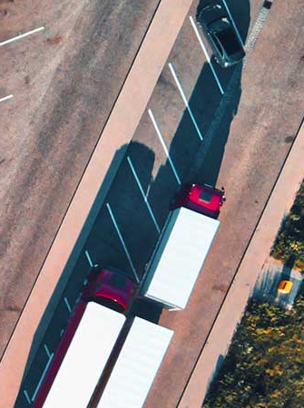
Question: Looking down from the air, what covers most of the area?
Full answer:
The scene is dominated by paved ground.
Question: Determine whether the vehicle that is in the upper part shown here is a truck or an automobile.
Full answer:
I'd say the vehicle that is in the upper part is an automobile.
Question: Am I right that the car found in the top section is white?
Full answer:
No, the car found in the top section is black.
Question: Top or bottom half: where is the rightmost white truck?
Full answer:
The rightmost white truck is in the bottom half of the image.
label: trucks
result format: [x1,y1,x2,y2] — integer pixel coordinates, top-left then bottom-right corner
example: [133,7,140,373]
[85,178,226,408]
[31,266,135,408]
